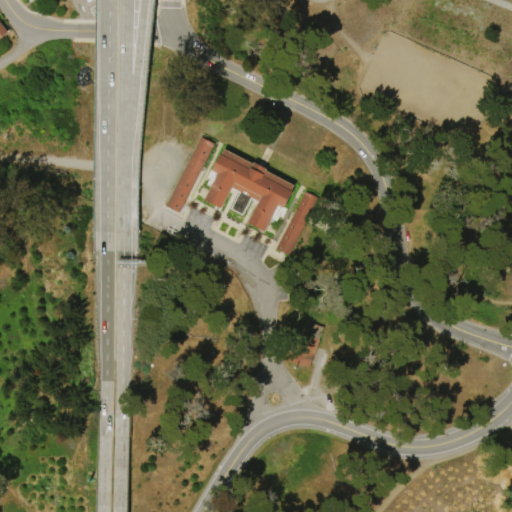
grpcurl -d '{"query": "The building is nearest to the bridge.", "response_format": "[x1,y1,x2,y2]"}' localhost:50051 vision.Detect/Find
[168,138,214,212]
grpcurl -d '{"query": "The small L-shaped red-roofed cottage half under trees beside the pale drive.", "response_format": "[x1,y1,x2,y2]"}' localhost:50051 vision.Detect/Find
[290,326,325,369]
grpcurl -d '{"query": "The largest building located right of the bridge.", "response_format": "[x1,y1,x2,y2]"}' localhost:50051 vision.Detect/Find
[206,149,295,230]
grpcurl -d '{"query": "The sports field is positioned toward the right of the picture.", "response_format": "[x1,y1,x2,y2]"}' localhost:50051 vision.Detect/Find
[360,30,496,126]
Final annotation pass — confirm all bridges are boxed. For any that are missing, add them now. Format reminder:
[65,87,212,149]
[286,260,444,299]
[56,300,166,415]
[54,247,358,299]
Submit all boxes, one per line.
[92,0,154,259]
